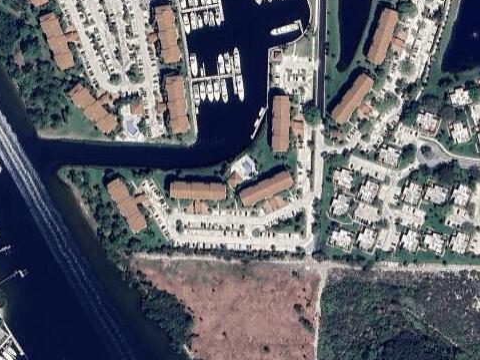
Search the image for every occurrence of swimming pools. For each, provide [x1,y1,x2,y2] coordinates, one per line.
[124,119,140,137]
[240,160,254,176]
